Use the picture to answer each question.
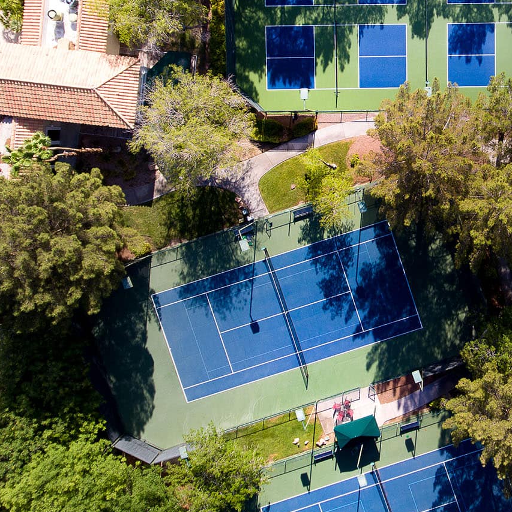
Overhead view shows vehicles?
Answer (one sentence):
No, I can't see a single vehicle in this photo.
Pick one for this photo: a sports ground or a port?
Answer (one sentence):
What you see here is a sports ground.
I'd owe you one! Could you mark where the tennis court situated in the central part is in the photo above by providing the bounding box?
[82,168,488,451]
